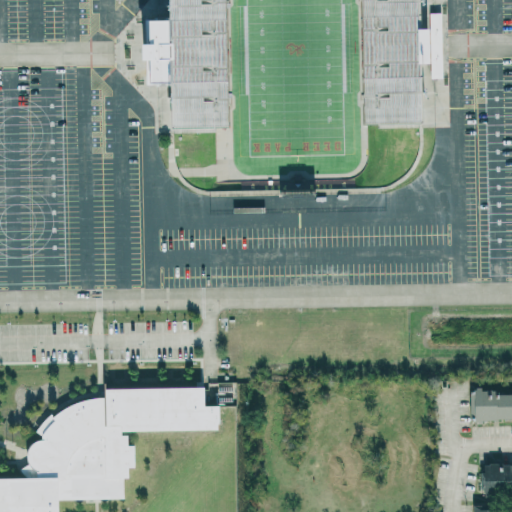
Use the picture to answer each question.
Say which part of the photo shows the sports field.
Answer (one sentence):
You can find the sports field in the top area of the picture.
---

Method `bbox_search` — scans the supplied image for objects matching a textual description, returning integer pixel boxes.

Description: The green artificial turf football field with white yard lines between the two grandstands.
[230,0,362,175]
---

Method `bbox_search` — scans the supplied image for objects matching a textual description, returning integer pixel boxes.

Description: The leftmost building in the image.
[0,384,221,512]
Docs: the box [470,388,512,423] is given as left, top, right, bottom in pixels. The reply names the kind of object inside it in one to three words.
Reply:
building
